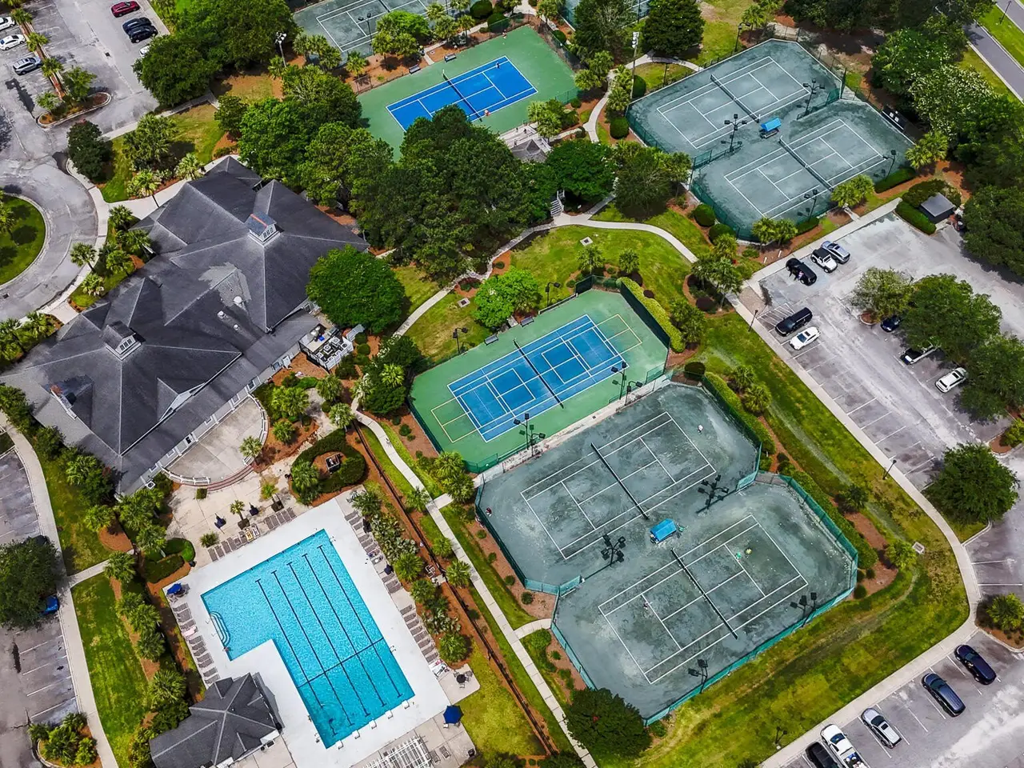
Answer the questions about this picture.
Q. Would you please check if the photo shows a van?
Yes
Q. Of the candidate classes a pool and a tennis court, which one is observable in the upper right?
tennis court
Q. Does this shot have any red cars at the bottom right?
No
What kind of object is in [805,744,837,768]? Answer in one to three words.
car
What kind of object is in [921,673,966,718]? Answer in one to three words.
van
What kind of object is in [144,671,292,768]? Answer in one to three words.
building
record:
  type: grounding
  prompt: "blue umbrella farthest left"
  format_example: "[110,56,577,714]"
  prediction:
[168,584,184,598]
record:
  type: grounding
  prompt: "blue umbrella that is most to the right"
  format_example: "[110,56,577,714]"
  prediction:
[443,705,462,725]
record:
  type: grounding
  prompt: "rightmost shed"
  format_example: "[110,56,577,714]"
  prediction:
[920,192,955,222]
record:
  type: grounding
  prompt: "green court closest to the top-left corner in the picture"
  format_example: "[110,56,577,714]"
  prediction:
[357,24,586,167]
